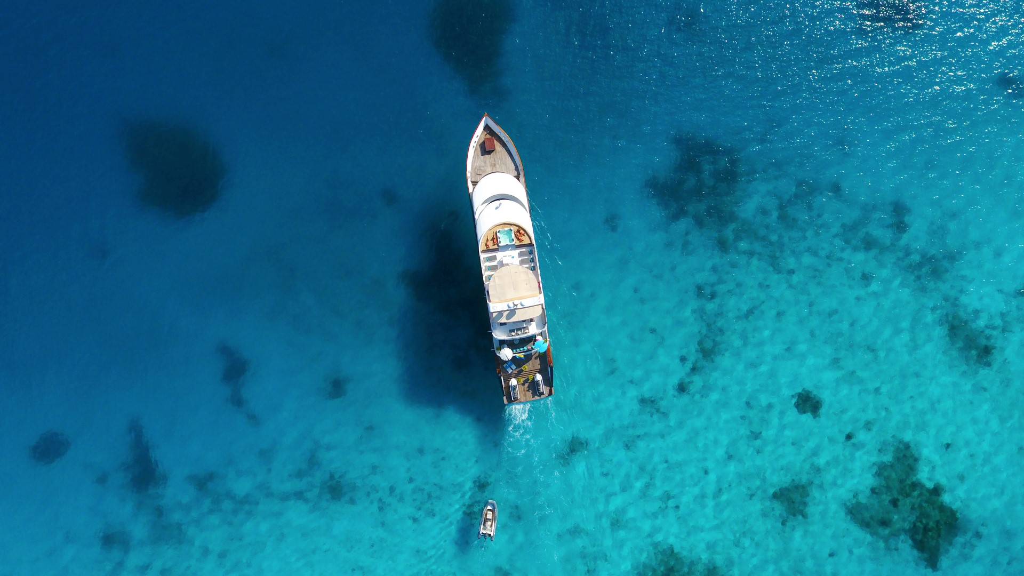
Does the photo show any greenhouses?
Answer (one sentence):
No, I can't see a single greenhouse in this photo.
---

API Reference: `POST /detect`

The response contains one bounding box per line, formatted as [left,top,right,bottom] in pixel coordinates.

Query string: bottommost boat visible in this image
[478,500,498,541]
